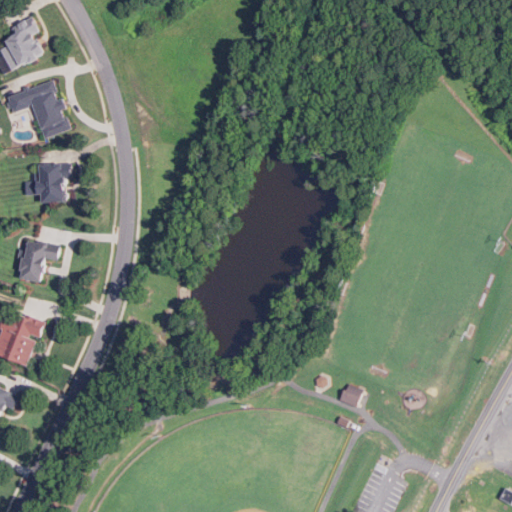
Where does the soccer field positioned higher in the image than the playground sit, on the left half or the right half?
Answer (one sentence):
The soccer field positioned higher in the image than the playground appears in the right half of the scene.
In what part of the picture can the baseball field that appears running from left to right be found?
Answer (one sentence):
The baseball field that appears running from left to right is in the bottom part of the image.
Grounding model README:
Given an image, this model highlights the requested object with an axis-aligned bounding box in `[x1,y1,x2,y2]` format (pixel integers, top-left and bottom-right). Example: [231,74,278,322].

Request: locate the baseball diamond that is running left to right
[92,406,352,512]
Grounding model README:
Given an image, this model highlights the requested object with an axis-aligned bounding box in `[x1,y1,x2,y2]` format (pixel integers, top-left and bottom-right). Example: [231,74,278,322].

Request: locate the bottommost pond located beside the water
[190,158,336,362]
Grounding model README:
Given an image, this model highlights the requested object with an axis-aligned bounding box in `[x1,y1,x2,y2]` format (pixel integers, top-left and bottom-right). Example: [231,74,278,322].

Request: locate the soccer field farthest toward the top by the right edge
[338,84,512,385]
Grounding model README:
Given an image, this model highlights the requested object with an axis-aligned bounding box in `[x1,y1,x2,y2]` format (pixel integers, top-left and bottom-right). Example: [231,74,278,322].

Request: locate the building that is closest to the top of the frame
[0,16,46,74]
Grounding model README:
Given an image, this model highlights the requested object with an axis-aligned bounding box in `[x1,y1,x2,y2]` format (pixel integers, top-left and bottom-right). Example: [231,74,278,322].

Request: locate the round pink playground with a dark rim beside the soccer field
[402,388,426,411]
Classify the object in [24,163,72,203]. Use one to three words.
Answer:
house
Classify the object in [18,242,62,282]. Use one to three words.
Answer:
house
